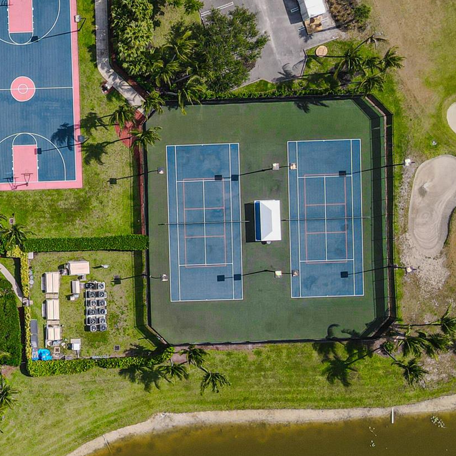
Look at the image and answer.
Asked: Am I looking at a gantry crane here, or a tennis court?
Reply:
tennis court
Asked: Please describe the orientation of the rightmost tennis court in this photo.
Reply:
vertically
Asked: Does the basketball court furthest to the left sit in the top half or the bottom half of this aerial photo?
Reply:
top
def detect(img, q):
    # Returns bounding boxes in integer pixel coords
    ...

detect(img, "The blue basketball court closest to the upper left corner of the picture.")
[0,0,77,184]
